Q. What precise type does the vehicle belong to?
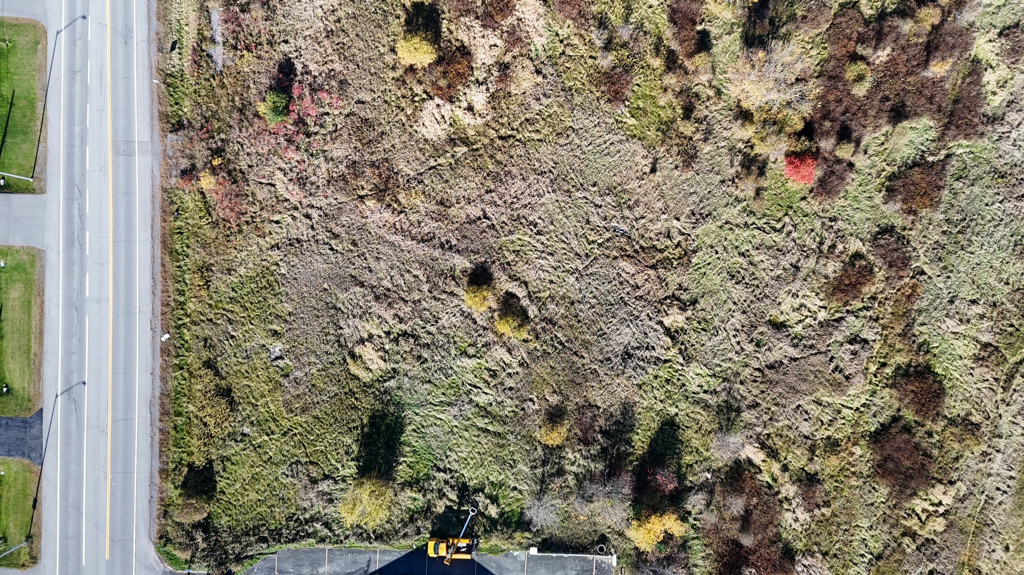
truck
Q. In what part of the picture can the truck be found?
bottom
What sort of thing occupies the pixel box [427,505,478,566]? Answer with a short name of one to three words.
truck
